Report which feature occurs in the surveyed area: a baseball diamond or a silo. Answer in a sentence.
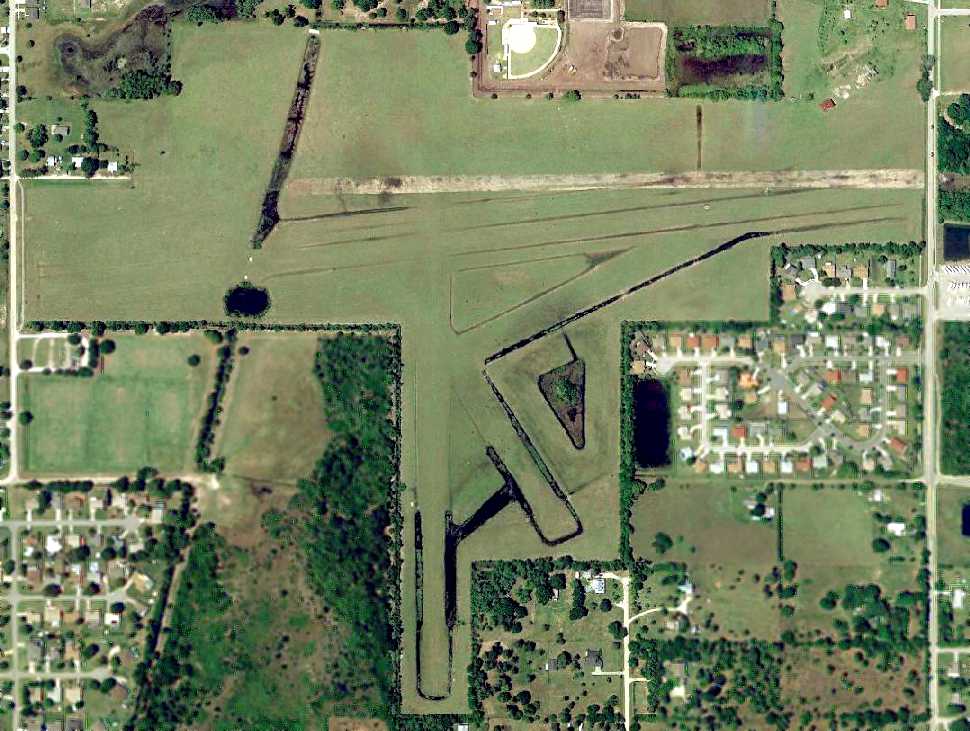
Visible in the photo is a baseball diamond.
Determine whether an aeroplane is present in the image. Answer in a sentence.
No, the scene contains no aeroplane.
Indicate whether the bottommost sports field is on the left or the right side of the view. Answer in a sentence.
It is on the left.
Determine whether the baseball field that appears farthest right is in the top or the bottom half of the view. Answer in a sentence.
You can find the baseball field that appears farthest right in the top half.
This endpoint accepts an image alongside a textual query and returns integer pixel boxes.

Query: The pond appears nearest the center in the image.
[636,379,670,468]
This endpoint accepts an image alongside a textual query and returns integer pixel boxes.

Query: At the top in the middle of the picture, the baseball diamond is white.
[502,19,562,80]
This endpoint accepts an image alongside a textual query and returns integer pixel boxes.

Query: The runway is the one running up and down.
[417,195,447,690]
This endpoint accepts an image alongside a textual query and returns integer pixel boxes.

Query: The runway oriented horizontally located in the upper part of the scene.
[284,169,924,194]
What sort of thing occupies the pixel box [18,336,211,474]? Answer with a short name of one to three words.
sports field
